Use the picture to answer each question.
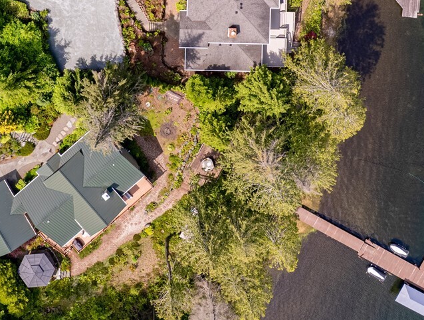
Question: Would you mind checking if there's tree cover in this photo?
Yes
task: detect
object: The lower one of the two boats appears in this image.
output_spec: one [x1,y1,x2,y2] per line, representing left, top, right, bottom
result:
[368,268,387,282]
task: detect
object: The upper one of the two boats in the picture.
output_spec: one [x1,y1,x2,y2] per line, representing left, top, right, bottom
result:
[391,245,411,259]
